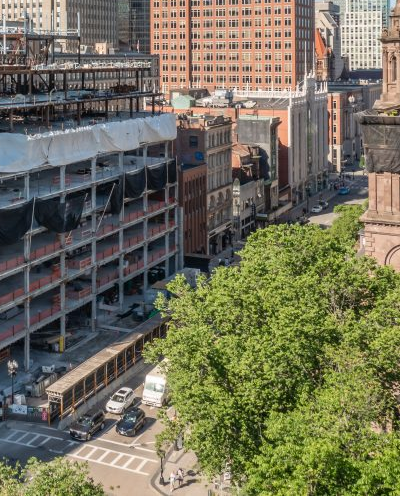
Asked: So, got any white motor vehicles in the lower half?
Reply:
Yes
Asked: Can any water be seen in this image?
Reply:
No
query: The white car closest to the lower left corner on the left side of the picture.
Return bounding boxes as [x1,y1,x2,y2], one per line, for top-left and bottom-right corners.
[103,386,134,413]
